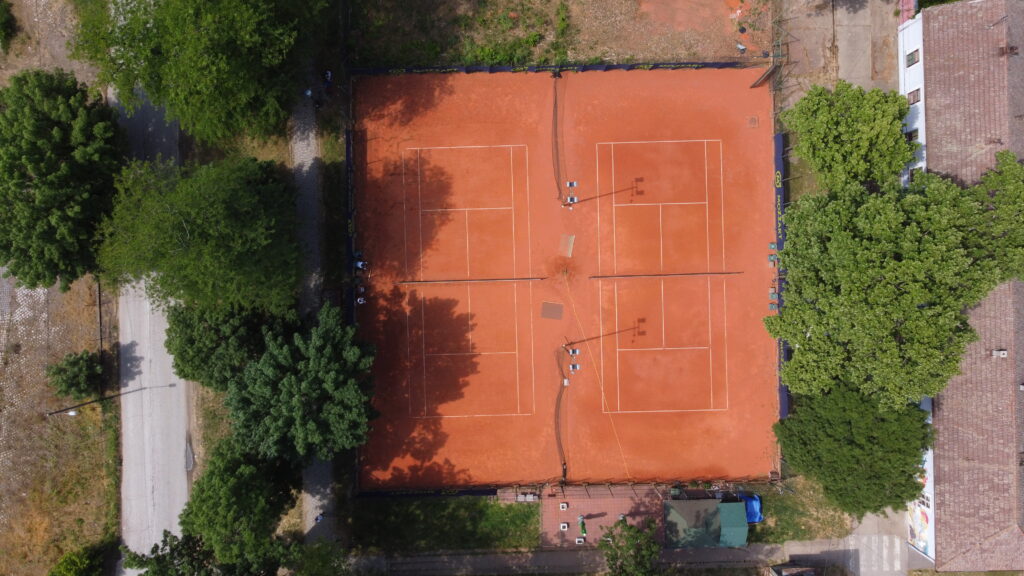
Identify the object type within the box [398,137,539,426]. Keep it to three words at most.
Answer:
tennis court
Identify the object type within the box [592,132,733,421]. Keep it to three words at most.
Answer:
tennis court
